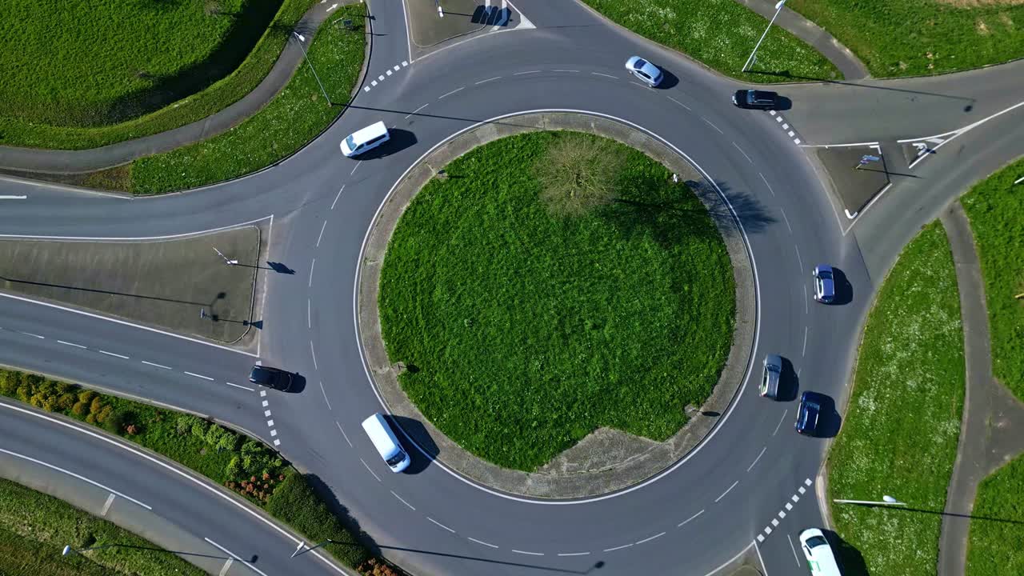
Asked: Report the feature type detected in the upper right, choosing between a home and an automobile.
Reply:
automobile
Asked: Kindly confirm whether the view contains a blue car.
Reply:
Yes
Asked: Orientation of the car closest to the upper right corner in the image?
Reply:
horizontally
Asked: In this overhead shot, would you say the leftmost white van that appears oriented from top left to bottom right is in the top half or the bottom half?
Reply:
bottom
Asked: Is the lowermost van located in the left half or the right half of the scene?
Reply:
right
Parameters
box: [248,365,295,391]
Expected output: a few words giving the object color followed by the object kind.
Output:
black car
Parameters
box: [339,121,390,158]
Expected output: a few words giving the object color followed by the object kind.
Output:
white vehicle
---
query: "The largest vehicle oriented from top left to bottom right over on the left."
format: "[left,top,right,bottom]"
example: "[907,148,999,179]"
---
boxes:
[362,413,410,472]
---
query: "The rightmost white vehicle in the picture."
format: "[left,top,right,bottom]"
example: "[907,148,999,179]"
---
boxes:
[801,529,844,576]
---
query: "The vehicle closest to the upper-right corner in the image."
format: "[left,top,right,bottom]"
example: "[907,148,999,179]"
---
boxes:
[732,87,777,109]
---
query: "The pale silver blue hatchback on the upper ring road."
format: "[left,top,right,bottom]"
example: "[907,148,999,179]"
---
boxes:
[625,56,664,88]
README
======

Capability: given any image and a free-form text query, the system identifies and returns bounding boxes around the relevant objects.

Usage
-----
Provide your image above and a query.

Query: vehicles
[794,390,822,436]
[339,121,390,158]
[732,87,777,109]
[759,353,785,399]
[362,413,410,472]
[625,56,664,88]
[813,263,837,303]
[801,529,844,576]
[248,365,295,391]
